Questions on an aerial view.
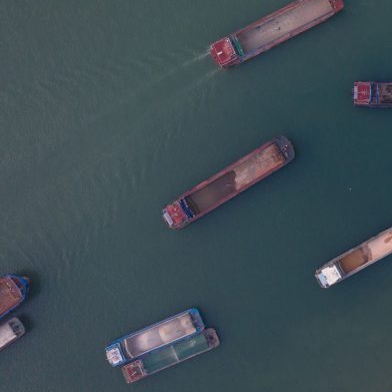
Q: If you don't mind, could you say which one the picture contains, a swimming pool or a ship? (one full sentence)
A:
Of the two, only a ship appears.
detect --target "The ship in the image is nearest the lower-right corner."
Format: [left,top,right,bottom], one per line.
[315,228,392,290]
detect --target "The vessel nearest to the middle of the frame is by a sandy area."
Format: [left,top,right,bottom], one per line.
[165,140,296,230]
